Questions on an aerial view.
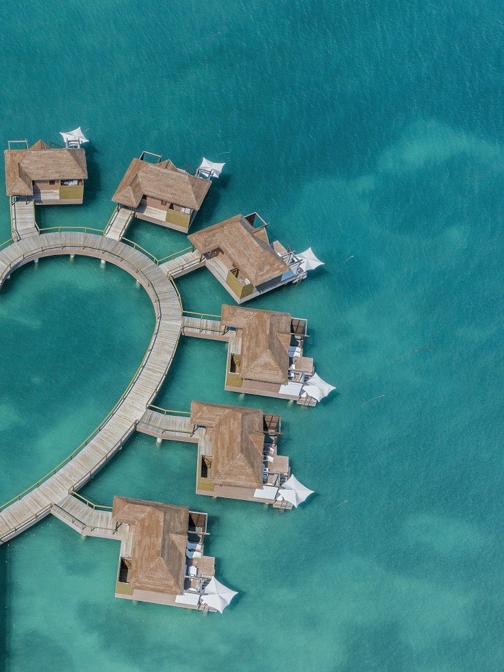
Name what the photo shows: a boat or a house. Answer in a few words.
house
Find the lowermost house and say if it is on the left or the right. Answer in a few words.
left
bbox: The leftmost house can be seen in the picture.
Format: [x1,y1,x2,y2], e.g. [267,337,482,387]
[3,135,87,212]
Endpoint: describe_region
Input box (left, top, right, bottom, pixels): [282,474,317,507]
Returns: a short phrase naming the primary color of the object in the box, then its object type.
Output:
white umbrella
